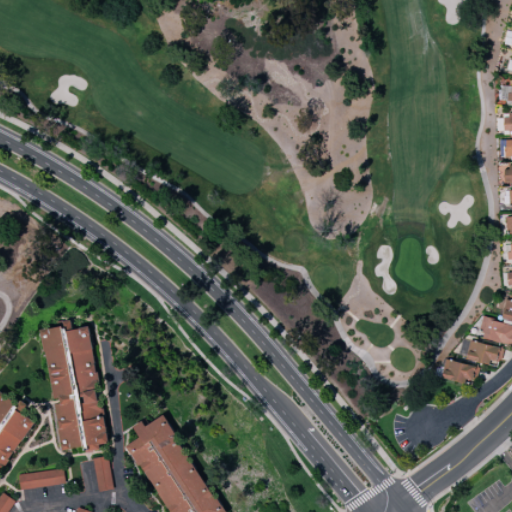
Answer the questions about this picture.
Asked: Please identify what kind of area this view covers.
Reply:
golf course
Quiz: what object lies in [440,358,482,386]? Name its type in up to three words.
house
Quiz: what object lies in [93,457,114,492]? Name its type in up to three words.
building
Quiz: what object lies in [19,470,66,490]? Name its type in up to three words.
building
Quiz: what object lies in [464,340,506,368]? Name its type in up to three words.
house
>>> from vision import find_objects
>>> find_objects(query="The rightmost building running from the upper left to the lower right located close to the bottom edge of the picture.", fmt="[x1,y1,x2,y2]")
[128,416,224,512]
